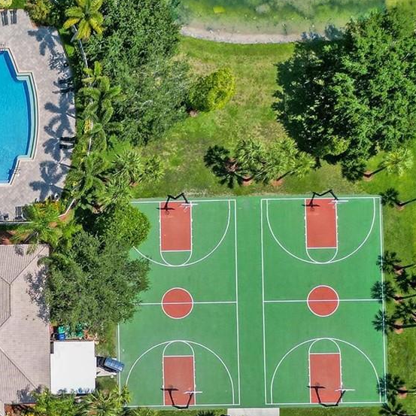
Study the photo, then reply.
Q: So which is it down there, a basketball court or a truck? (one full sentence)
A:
I can see a basketball court in this picture.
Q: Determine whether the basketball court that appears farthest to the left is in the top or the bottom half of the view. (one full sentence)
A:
You can find the basketball court that appears farthest to the left in the bottom half.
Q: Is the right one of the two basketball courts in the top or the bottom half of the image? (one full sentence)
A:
You can find the right one of the two basketball courts in the bottom half.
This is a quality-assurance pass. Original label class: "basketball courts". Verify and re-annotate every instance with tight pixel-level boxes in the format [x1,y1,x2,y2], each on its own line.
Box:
[110,196,251,409]
[247,194,388,408]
